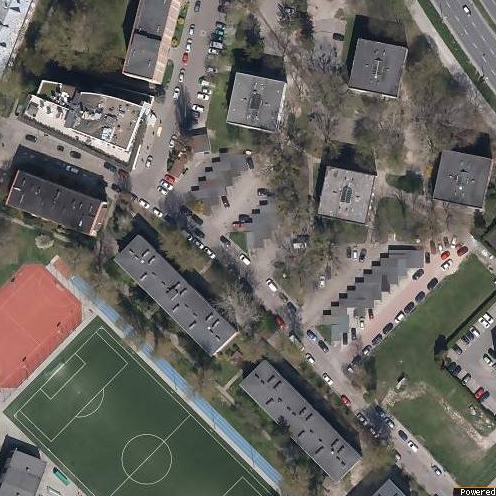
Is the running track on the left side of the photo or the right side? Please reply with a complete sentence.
The running track is on the left side of the image.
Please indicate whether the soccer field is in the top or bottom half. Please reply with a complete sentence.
The soccer field sits in the bottom half of the picture.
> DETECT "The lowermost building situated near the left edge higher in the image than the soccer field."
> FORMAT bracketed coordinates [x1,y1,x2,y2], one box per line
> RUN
[8,170,109,237]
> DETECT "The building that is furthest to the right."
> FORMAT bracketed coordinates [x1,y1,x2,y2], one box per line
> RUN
[433,151,493,209]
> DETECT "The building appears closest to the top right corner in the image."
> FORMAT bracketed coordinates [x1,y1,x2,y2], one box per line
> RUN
[349,39,409,98]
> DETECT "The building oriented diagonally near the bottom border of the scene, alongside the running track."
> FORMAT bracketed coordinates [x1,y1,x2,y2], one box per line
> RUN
[241,360,362,481]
